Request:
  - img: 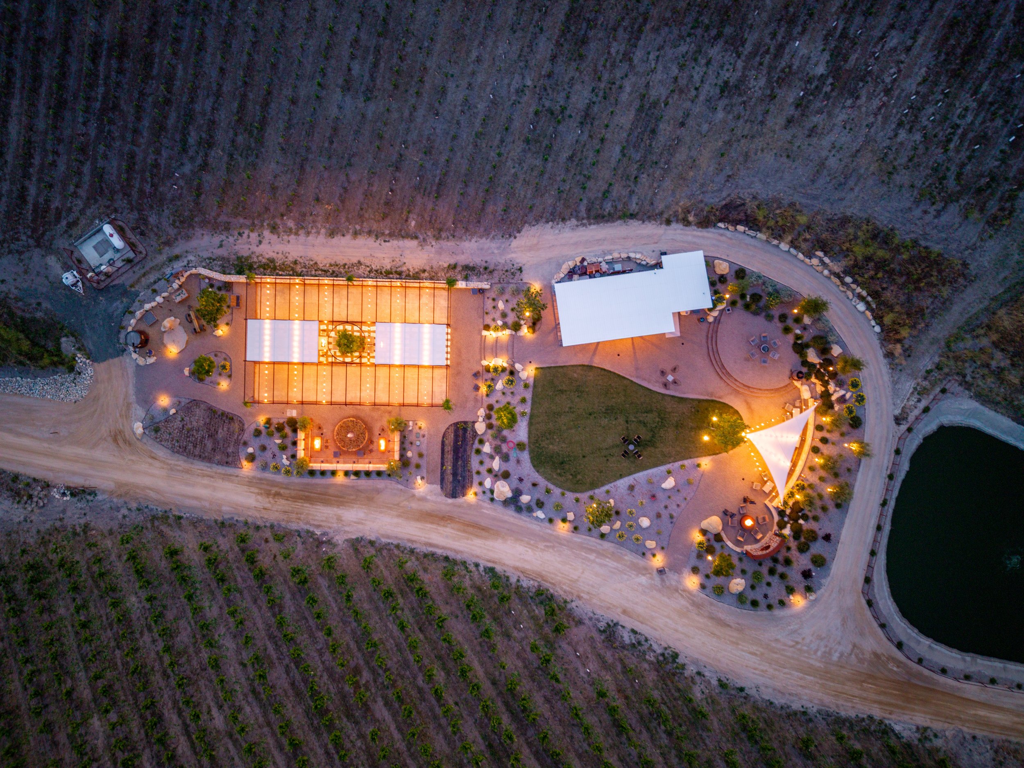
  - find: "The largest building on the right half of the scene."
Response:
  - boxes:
[554,250,713,347]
